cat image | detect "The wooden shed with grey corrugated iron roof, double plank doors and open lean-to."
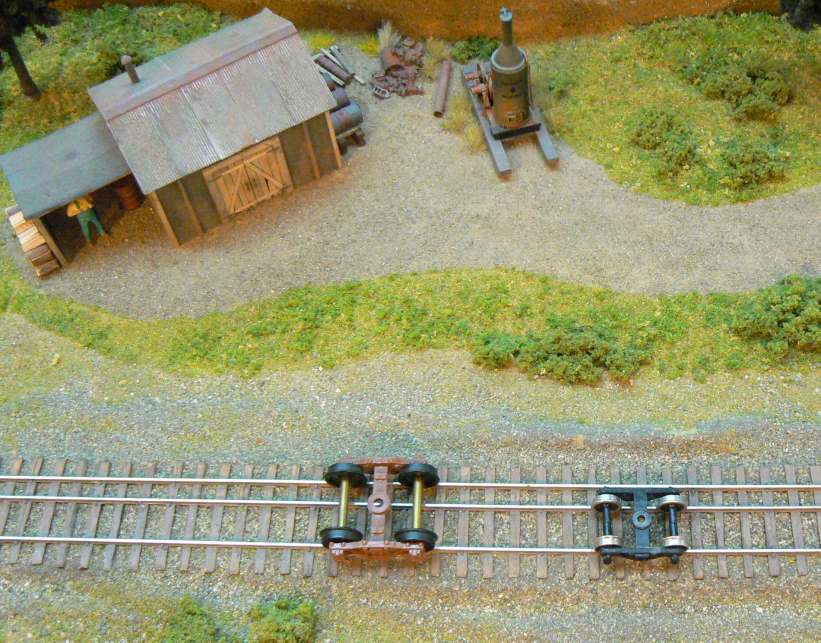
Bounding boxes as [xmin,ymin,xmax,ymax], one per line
[0,6,342,267]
